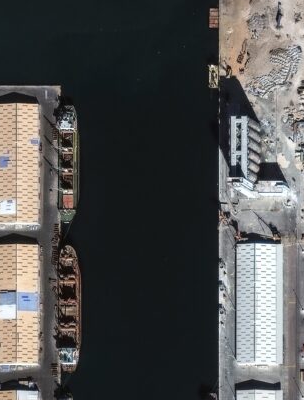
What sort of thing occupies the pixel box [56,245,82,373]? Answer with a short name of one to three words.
ship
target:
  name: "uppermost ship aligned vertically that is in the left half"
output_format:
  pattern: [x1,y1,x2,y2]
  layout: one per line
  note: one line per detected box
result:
[56,105,80,241]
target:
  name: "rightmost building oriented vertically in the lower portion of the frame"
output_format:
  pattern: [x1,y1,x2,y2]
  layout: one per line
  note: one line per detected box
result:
[236,242,285,366]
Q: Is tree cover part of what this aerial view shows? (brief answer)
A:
No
